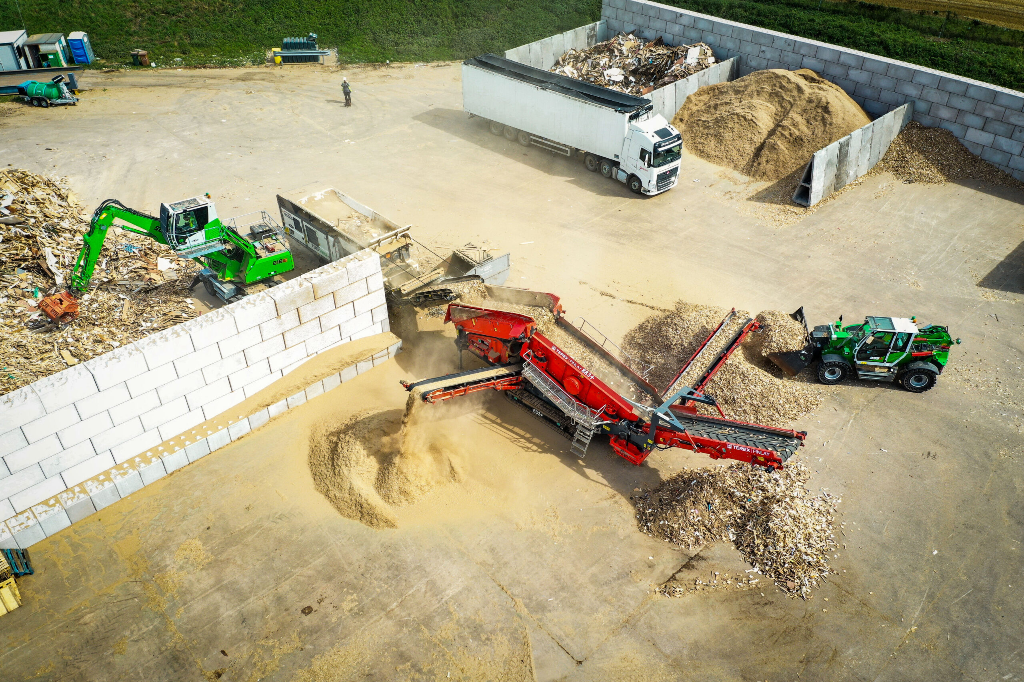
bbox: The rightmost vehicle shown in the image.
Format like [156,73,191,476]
[767,306,965,391]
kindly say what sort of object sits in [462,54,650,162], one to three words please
trailer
